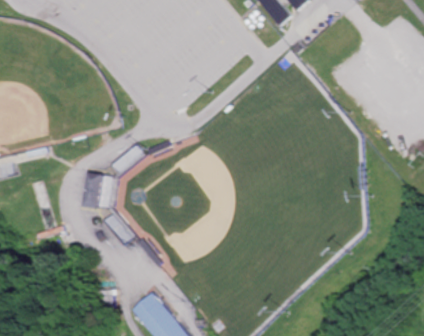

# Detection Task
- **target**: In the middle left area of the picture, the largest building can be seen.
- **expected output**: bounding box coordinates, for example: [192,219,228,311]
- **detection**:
[82,172,118,208]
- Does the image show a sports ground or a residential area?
sports ground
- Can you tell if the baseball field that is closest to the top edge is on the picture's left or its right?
left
